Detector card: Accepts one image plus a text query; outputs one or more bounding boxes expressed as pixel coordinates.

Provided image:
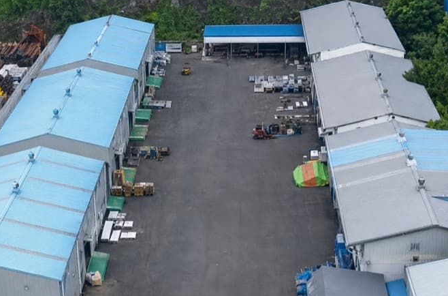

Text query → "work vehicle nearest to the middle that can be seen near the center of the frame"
[250,118,278,138]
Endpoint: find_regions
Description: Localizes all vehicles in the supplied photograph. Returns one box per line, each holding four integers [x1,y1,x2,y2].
[250,118,278,138]
[182,61,190,77]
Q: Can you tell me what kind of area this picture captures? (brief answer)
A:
industrial area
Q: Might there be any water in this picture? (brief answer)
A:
No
